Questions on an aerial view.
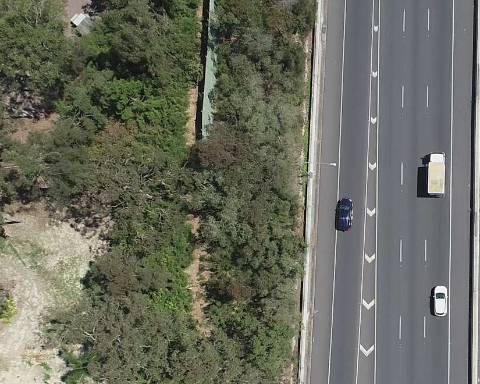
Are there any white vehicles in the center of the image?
No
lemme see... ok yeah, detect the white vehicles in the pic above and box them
[427,152,446,196]
[432,285,447,316]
